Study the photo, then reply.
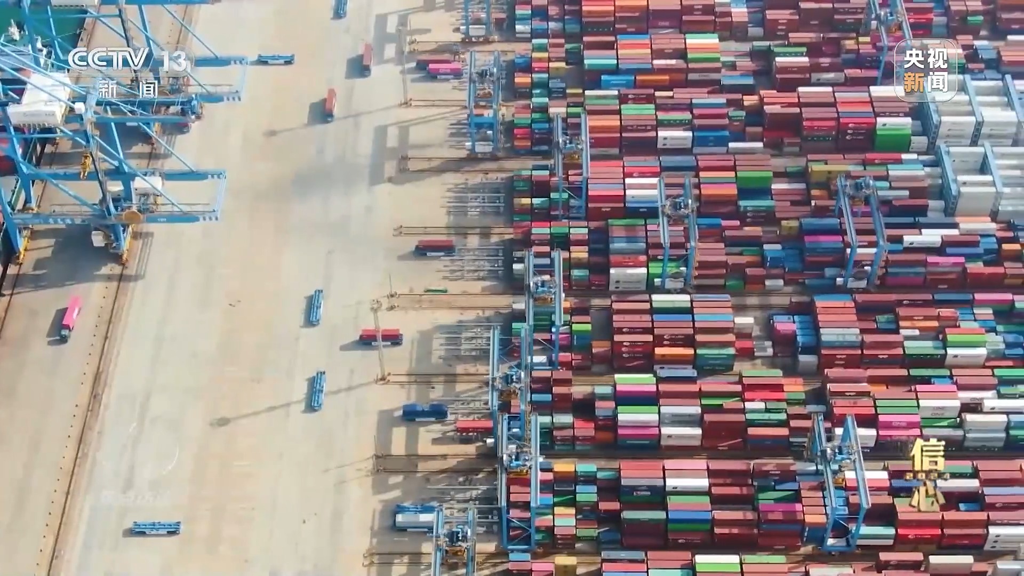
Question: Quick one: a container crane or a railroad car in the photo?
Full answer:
Of the two, only a container crane appears.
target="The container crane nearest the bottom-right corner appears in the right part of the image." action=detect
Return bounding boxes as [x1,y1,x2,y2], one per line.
[806,415,870,557]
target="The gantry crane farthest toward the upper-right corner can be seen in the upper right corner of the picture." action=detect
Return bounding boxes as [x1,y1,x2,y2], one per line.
[867,0,917,100]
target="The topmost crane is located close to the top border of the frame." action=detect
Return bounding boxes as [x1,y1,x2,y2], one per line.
[459,0,495,42]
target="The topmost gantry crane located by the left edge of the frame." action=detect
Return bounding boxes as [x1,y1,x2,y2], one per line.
[0,0,247,148]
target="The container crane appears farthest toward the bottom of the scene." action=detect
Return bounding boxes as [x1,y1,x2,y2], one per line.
[431,507,482,576]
